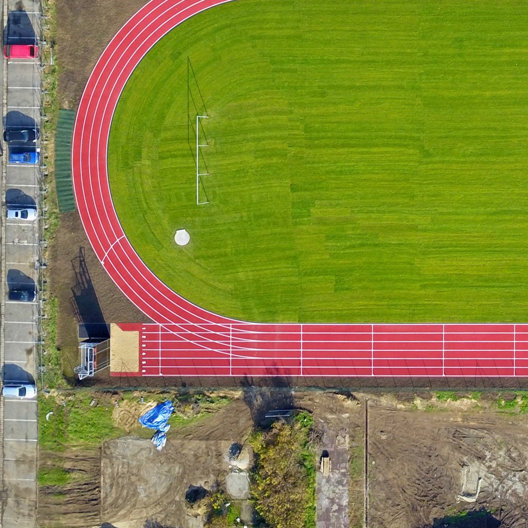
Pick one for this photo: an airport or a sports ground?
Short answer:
sports ground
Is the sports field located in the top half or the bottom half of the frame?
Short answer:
top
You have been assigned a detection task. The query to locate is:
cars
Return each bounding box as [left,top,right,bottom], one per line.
[3,43,39,60]
[2,127,40,144]
[7,208,37,222]
[8,288,37,303]
[9,150,40,166]
[1,382,36,401]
